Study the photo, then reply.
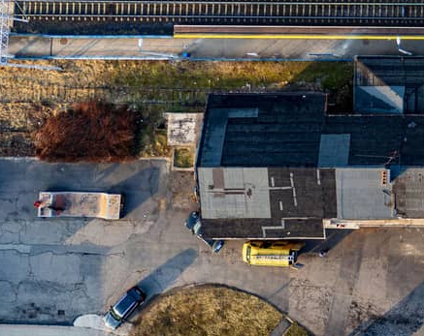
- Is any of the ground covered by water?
No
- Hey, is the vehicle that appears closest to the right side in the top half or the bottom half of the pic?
bottom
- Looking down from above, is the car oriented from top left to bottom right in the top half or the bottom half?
bottom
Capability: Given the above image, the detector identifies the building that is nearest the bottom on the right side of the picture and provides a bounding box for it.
[195,92,424,240]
